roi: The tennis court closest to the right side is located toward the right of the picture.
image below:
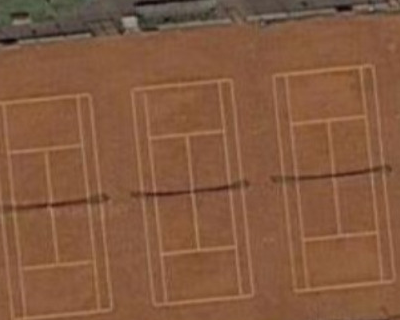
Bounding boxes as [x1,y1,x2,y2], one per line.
[268,58,400,297]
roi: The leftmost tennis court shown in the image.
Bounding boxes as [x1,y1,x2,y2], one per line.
[0,87,118,320]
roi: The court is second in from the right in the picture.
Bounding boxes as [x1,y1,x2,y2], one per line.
[126,73,259,311]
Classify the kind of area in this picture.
sports ground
